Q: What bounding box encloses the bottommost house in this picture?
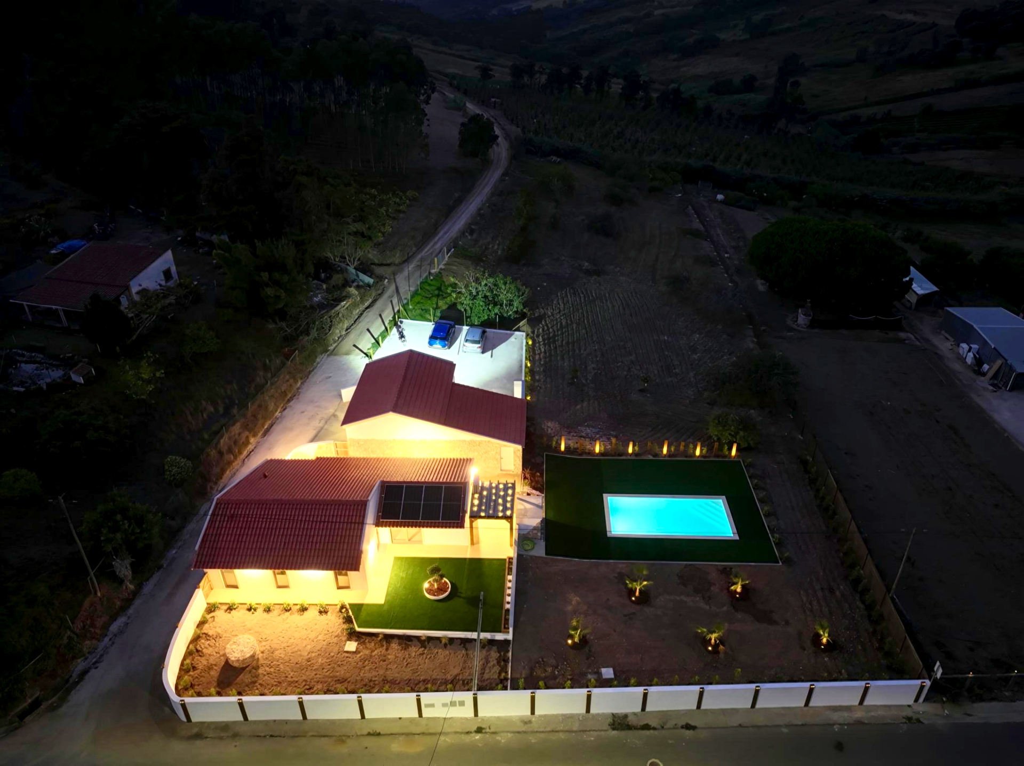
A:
[193,456,480,592]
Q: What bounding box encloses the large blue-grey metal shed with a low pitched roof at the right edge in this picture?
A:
[939,305,1024,396]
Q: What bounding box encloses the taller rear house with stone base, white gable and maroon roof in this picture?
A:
[340,348,528,493]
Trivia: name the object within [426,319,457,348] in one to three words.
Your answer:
car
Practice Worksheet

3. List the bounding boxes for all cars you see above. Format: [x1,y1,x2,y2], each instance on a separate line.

[426,319,457,348]
[462,325,487,352]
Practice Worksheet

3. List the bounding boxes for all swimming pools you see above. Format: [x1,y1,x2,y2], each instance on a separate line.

[603,494,739,540]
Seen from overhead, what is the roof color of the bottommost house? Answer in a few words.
red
